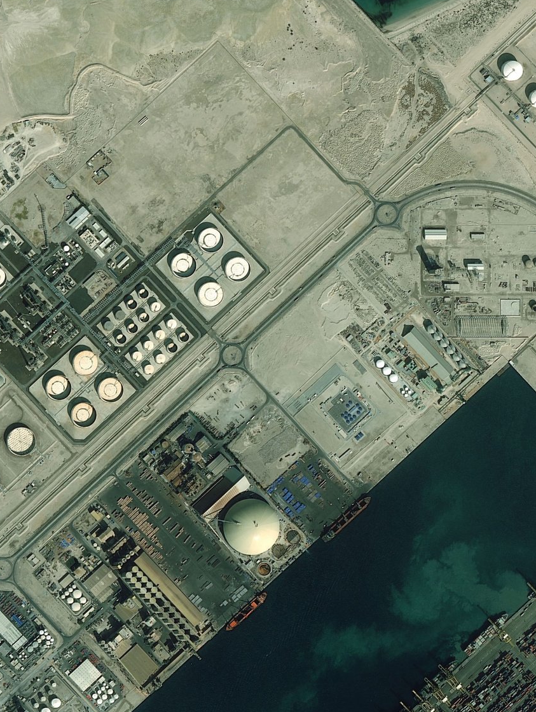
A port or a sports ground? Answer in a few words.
port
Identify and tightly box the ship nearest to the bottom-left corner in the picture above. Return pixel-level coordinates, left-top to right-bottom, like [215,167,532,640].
[226,592,269,630]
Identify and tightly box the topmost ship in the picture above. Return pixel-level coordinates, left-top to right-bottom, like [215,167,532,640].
[320,496,372,544]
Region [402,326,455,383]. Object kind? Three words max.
building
